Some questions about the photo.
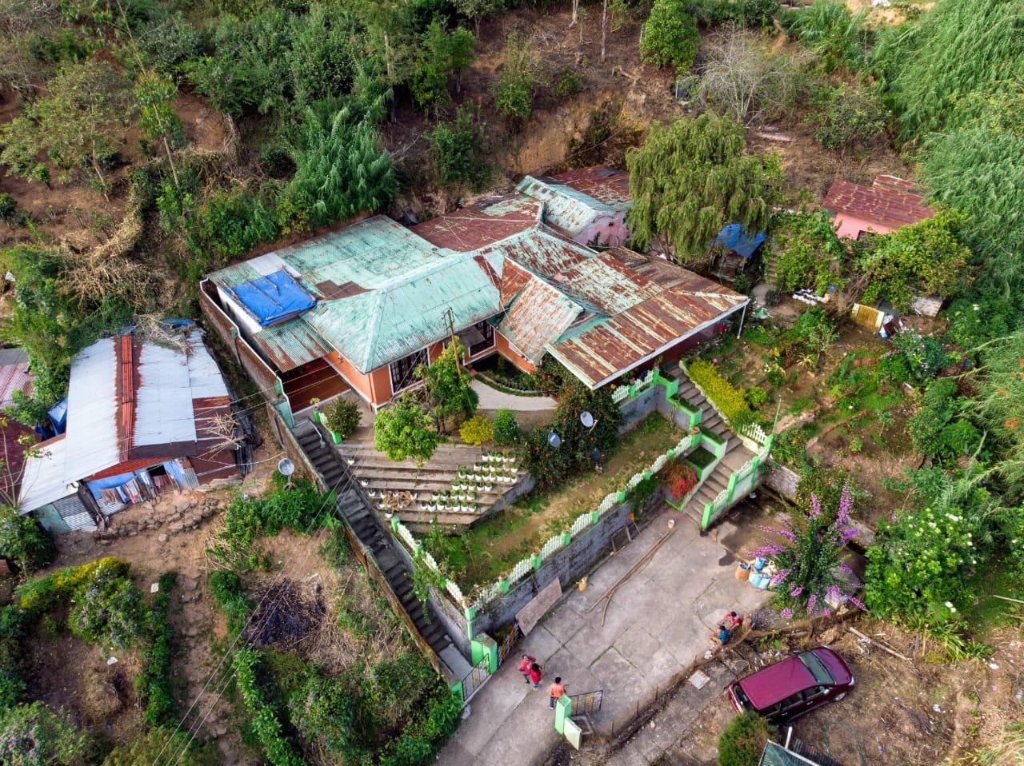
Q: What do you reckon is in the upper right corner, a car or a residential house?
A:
residential house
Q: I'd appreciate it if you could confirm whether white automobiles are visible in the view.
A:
No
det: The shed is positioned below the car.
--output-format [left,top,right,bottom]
[756,725,840,766]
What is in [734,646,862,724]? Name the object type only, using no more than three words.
car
